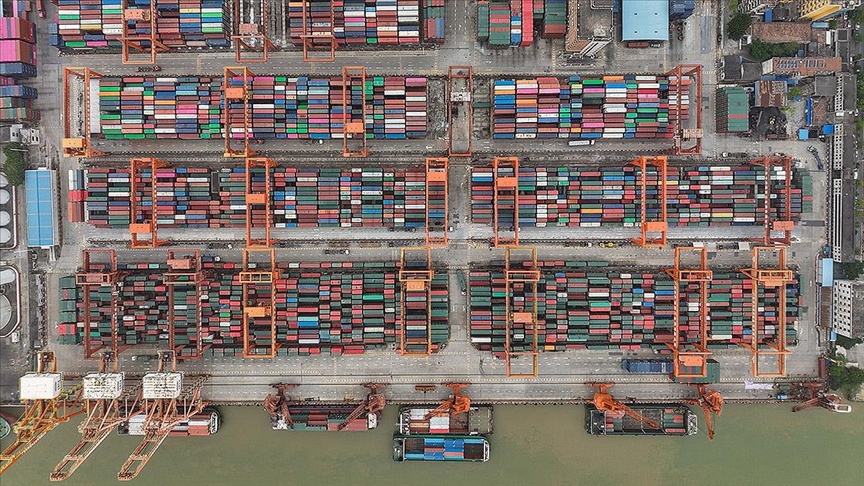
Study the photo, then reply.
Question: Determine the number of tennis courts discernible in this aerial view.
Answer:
0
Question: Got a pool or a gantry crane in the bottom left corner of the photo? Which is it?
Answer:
gantry crane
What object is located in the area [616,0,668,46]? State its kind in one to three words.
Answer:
building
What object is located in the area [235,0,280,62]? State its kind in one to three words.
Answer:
container crane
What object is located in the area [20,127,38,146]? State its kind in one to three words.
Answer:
house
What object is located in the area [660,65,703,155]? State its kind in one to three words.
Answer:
container crane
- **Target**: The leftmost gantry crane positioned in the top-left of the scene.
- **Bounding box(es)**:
[60,66,111,158]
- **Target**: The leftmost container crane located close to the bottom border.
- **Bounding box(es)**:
[0,350,95,477]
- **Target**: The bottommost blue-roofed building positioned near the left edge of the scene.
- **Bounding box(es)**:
[24,166,66,249]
